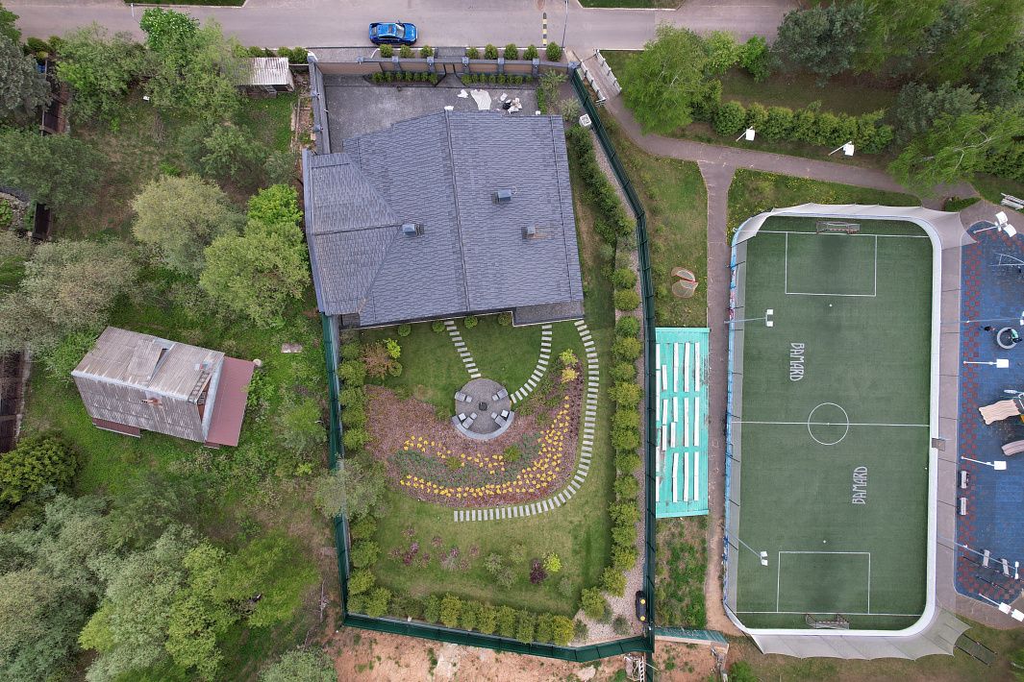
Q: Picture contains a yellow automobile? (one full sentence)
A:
No, I can see no yellow automobile in this picture.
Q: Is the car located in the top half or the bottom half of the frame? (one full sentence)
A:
It is in the top half that the car appears.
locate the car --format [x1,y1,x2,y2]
[369,19,417,45]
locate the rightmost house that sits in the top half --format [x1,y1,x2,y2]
[301,104,584,331]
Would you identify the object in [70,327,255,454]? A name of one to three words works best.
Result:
house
